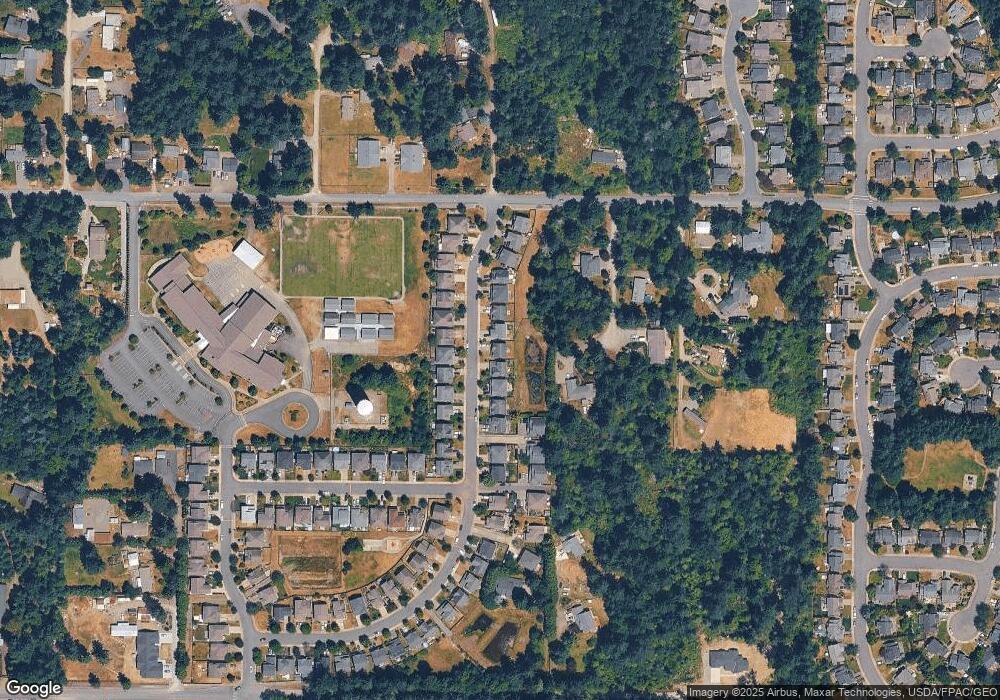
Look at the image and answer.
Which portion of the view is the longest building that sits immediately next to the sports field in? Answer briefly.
left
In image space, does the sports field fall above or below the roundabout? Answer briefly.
above it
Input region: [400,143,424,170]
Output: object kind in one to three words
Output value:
barn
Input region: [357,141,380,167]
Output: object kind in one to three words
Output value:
barn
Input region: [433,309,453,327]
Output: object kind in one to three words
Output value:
house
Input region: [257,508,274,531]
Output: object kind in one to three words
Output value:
house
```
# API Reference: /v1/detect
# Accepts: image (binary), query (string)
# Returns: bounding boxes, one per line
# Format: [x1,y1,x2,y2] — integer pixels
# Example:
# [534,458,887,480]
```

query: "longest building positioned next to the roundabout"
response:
[148,253,286,391]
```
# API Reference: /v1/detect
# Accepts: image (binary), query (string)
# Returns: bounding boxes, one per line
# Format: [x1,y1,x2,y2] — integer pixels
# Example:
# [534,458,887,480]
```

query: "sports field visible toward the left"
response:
[278,215,406,302]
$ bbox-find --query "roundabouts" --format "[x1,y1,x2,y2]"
[229,388,321,443]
